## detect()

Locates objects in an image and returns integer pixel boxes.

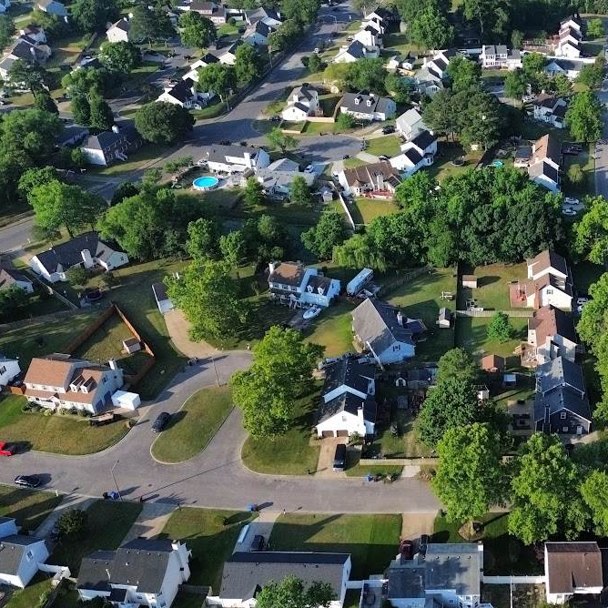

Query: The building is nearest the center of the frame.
[266,263,341,310]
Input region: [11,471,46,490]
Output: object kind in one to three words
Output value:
car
